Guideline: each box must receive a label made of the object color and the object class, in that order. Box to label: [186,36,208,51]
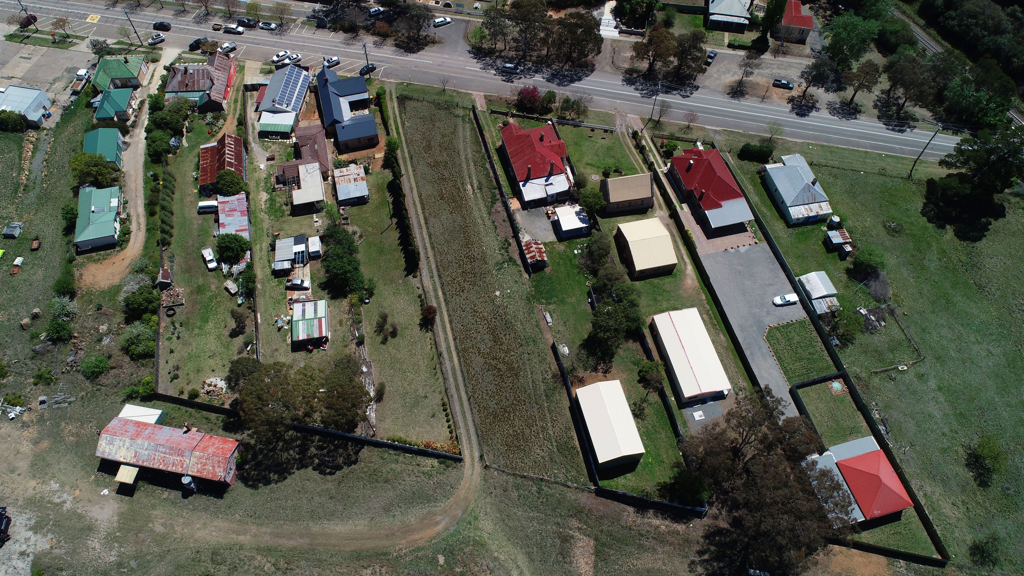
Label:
black vehicle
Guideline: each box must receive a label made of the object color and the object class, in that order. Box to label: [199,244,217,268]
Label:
white vehicle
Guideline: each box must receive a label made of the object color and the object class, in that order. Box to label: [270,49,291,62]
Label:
white vehicle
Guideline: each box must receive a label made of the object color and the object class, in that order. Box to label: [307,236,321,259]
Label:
white camper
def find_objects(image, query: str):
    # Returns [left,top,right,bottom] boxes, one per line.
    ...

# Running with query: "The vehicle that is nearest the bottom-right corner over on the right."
[771,293,803,308]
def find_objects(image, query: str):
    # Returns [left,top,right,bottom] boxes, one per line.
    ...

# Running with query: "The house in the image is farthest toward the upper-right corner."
[780,0,814,41]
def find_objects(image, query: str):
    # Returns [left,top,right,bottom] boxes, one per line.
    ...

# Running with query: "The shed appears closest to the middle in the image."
[521,239,548,268]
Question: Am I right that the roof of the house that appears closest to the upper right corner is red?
Yes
